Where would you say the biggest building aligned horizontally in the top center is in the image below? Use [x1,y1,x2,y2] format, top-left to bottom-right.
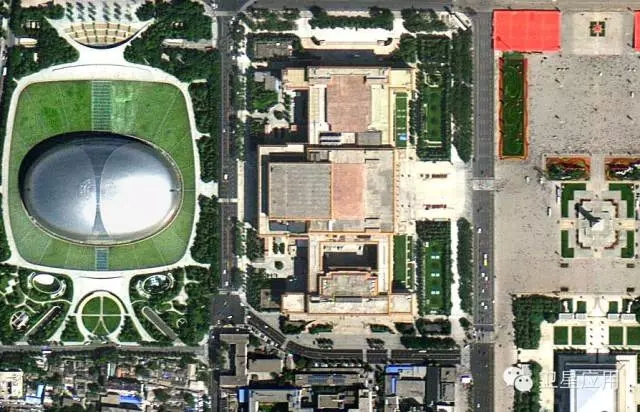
[253,41,293,58]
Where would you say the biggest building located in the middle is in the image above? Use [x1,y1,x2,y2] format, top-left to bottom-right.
[258,66,414,319]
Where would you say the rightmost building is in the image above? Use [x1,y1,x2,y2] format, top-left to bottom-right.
[555,349,640,412]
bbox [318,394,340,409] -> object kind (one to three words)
building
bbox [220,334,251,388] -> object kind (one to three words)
building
